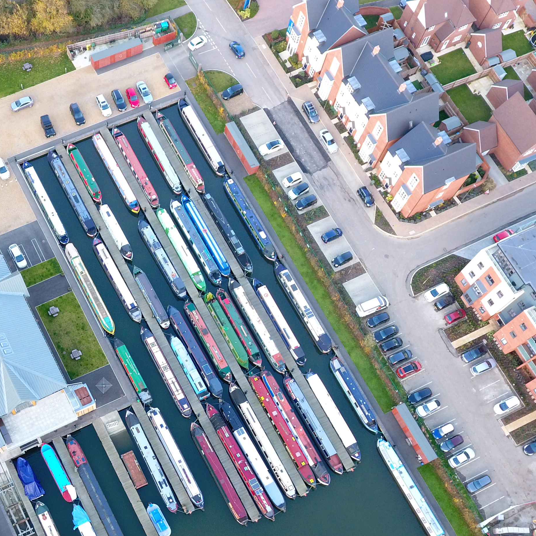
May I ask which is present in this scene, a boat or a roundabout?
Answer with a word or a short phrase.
boat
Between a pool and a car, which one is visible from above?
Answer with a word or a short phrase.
car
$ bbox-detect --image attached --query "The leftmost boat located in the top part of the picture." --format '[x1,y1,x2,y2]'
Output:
[24,161,71,246]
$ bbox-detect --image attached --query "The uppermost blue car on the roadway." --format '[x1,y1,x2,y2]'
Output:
[229,42,246,60]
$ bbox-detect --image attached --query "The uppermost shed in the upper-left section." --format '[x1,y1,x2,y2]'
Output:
[90,35,145,71]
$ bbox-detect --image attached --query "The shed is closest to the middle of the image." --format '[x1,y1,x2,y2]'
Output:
[224,116,262,173]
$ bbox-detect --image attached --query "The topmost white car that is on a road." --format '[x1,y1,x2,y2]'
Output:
[187,34,210,52]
